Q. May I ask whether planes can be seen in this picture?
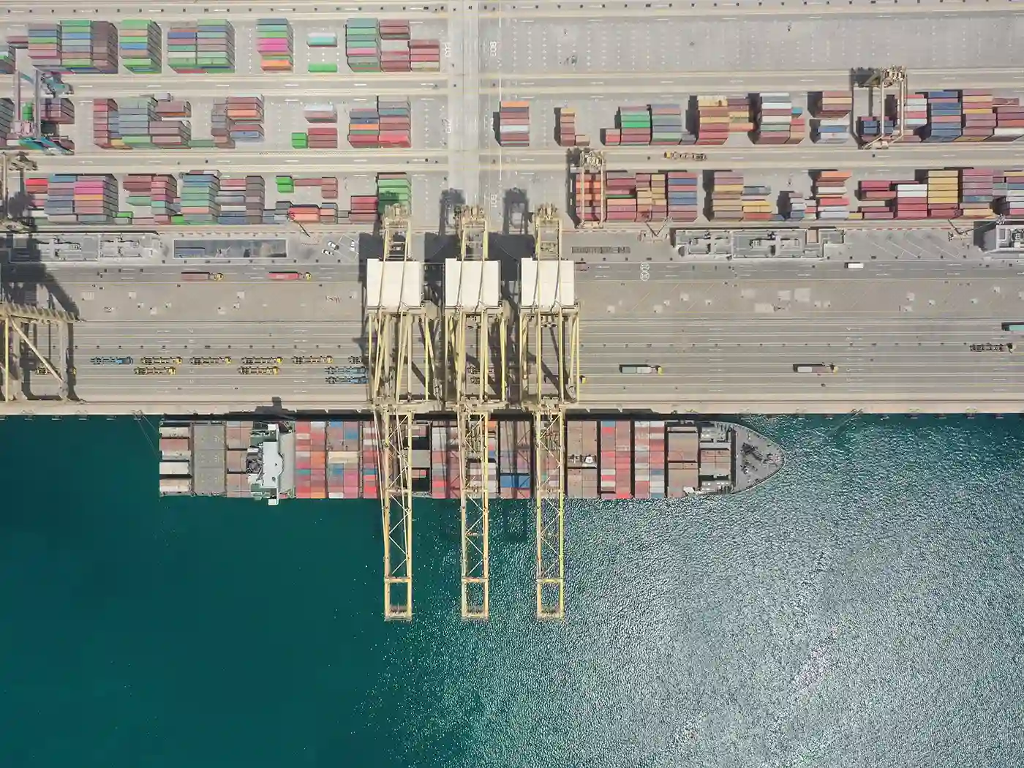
No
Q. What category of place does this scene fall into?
port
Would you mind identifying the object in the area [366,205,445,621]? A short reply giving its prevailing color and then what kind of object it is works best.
white container crane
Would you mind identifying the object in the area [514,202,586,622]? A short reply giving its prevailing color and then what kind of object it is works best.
white container crane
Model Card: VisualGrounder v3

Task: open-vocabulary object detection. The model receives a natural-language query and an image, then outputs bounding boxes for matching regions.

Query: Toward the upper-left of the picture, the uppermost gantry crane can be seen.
[14,74,68,153]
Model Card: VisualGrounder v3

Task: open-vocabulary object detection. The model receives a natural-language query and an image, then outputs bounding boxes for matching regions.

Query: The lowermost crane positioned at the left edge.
[0,308,91,413]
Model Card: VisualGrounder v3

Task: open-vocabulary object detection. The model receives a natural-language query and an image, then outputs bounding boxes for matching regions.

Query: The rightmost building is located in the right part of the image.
[985,225,1024,253]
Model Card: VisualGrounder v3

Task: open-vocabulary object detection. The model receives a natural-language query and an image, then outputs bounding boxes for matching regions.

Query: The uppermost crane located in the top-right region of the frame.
[859,67,905,150]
